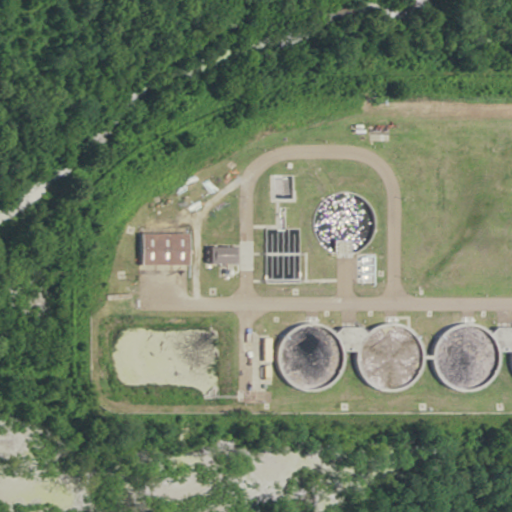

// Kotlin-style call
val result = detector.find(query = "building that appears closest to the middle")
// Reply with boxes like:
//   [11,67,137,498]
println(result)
[204,246,240,264]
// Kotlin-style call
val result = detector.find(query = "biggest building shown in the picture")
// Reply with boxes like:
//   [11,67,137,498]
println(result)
[143,234,191,264]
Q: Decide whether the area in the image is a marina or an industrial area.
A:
industrial area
